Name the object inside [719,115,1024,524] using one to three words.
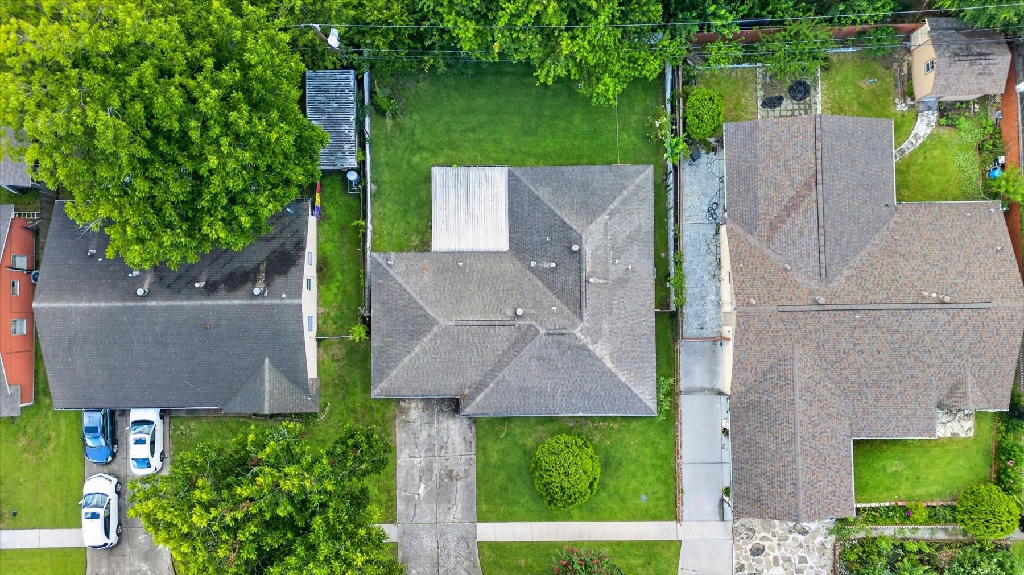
house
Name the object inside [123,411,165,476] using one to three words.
car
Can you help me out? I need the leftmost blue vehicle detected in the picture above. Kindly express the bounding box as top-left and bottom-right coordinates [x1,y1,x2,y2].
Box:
[78,411,121,465]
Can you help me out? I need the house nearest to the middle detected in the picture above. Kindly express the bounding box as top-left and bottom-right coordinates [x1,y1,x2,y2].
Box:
[370,164,656,418]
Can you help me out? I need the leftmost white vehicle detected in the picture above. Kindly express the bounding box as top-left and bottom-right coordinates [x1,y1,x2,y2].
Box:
[77,473,120,551]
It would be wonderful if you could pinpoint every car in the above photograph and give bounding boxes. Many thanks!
[123,411,165,476]
[78,411,121,465]
[77,473,120,551]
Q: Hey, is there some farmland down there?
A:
No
